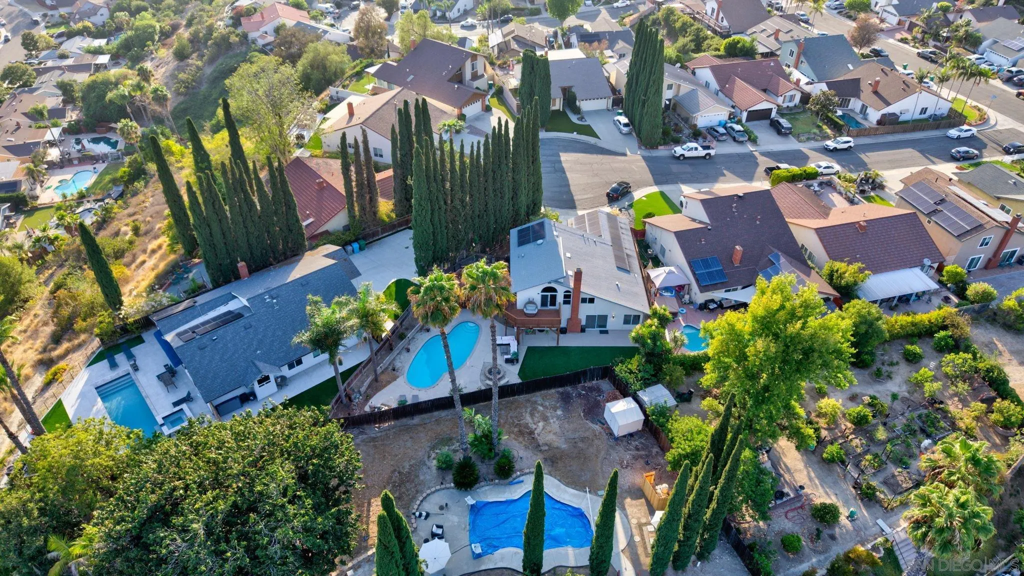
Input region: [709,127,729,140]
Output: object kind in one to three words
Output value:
vehicle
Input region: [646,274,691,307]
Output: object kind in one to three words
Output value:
gazebo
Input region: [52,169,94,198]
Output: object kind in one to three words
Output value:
swimming pool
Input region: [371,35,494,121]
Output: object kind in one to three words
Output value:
house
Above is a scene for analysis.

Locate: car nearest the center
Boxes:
[605,183,633,200]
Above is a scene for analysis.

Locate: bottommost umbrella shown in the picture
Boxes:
[415,547,449,576]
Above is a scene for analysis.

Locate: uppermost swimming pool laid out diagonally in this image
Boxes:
[836,111,869,131]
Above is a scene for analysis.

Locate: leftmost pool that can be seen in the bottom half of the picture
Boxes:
[89,368,167,453]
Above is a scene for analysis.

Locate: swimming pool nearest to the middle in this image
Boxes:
[404,318,482,390]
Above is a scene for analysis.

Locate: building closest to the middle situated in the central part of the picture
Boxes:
[509,209,650,333]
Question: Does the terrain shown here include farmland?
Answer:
No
